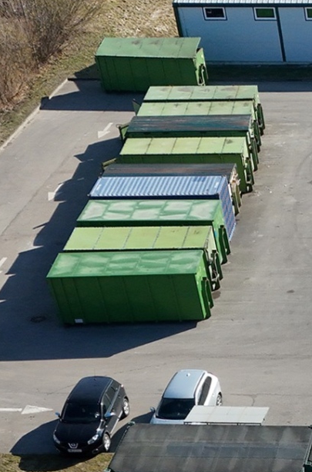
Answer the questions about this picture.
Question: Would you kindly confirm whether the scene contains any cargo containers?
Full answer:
Yes, looking at the shot, I can spot a cargo container.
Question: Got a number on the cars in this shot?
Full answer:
I count 2 cars.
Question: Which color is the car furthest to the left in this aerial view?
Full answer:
The car furthest to the left is black.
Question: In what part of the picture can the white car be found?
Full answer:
The white car sits in the bottom section of the image.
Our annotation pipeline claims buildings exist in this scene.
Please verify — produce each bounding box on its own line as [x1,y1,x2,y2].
[171,0,312,61]
[103,410,312,472]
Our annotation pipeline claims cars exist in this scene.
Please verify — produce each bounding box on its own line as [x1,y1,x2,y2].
[51,369,130,457]
[147,366,217,426]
